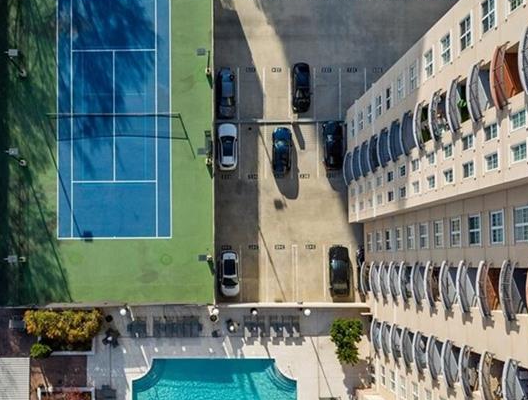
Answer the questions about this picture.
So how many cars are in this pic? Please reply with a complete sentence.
The picture shows 7 cars.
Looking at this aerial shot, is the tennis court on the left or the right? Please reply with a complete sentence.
You can find the tennis court on the left side of the picture.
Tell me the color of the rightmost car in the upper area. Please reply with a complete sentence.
The color of the rightmost car in the upper area is black.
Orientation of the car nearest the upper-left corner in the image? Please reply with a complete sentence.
I'd say the car nearest the upper-left corner is aligned from top to bottom in the picture.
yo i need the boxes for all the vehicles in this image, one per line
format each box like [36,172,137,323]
[218,249,241,298]
[216,69,237,118]
[328,245,353,299]
[321,119,346,171]
[270,126,293,175]
[216,123,238,172]
[290,61,313,114]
